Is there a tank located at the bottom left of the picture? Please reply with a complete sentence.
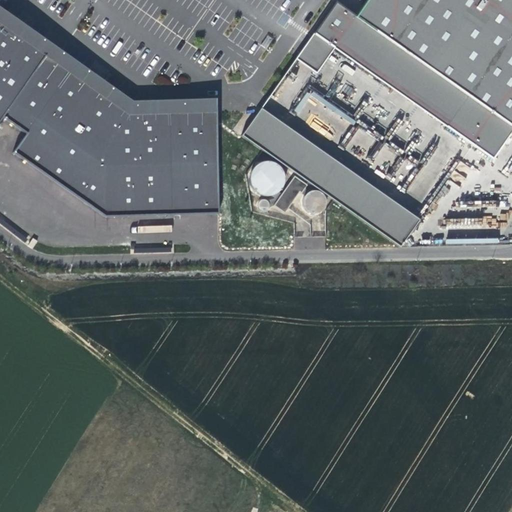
No, I can find no tank at the bottom left of the picture.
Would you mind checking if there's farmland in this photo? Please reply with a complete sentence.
Yes, there is farmland in the image.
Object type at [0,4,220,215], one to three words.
building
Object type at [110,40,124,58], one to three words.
vehicle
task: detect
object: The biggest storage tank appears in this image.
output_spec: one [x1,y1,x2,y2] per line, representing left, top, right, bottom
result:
[251,160,286,196]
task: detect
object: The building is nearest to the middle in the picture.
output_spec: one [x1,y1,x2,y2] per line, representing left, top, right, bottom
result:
[274,176,308,212]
